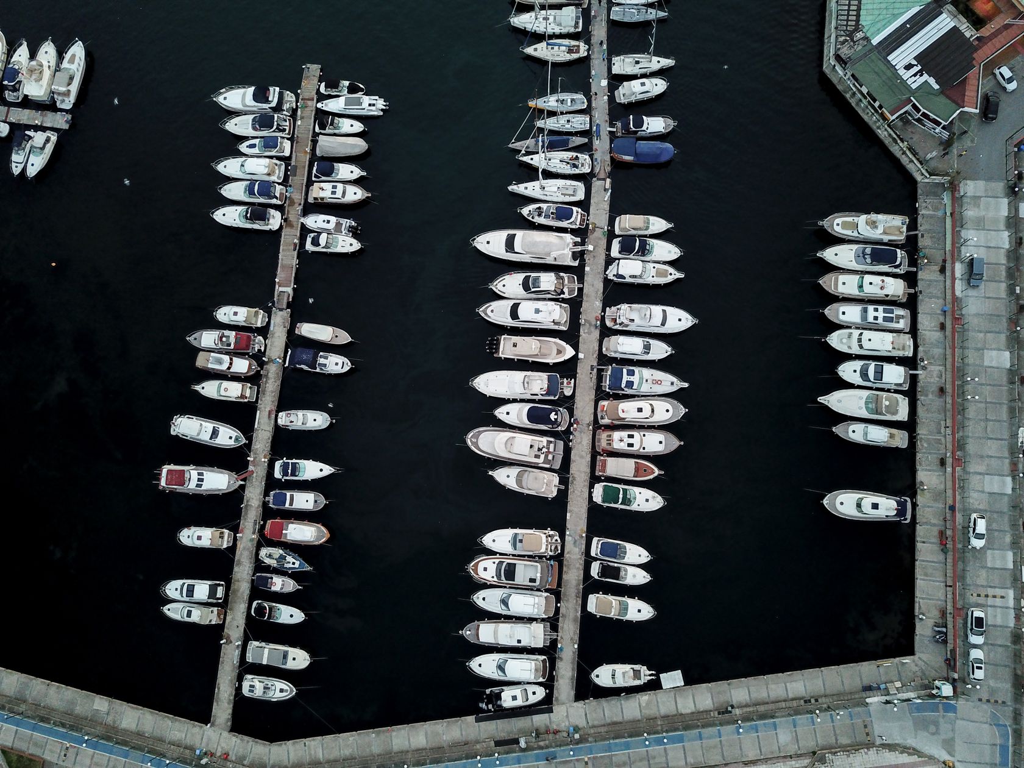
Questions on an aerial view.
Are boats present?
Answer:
Yes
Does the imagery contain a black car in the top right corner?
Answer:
Yes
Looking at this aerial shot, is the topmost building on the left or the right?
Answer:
right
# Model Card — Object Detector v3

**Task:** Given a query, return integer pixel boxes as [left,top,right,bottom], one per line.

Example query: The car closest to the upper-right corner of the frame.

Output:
[993,61,1020,91]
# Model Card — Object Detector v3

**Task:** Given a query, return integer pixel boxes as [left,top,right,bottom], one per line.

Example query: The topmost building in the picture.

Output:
[843,0,1024,129]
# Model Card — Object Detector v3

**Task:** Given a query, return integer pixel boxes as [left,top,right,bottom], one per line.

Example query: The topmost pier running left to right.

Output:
[0,107,72,131]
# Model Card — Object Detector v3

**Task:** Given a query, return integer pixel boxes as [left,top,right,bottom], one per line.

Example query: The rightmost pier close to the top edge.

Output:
[590,0,612,179]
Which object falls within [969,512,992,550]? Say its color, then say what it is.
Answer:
white car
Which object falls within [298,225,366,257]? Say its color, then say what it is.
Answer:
white boat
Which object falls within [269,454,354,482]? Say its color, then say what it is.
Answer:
white boat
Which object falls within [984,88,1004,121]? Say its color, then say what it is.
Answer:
black car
